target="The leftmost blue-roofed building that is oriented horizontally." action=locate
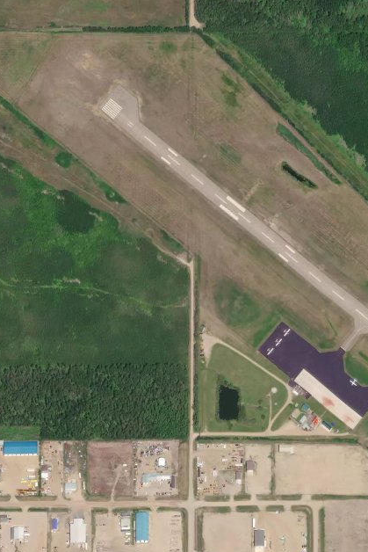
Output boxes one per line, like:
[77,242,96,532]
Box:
[2,441,37,456]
